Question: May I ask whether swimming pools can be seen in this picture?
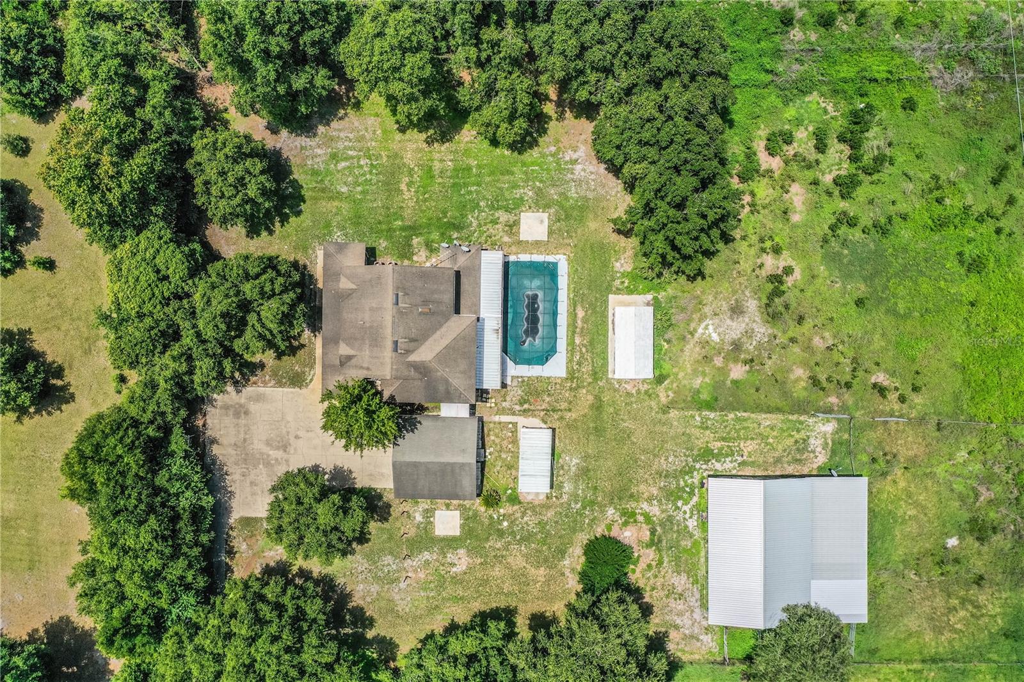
Yes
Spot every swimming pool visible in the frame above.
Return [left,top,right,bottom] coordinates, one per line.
[502,254,568,385]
